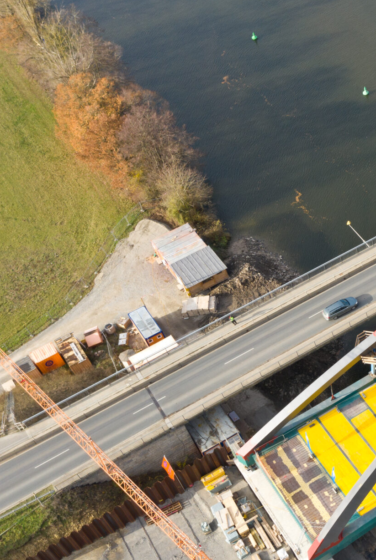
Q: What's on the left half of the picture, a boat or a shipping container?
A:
shipping container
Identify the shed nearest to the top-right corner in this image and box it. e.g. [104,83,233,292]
[152,224,229,302]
